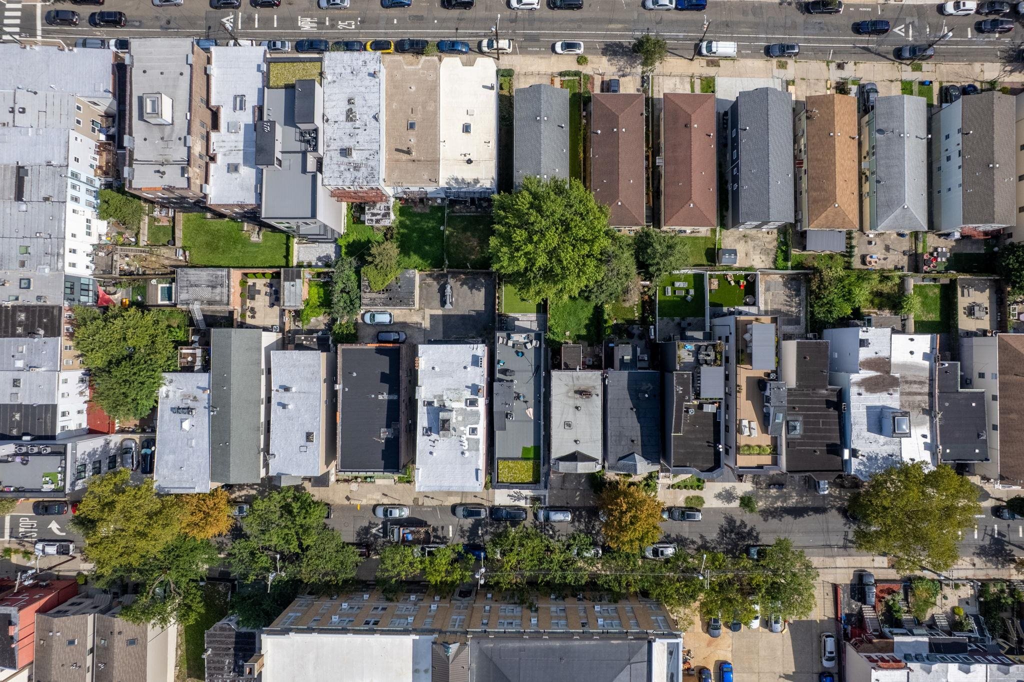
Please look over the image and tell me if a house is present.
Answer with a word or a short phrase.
Yes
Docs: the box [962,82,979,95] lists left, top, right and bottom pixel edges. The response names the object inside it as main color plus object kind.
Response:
black vehicle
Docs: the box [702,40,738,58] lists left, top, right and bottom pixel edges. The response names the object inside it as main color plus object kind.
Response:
white vehicle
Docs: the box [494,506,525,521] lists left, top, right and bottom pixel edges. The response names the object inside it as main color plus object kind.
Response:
black car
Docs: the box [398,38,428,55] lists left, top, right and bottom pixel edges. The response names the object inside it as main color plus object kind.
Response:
black car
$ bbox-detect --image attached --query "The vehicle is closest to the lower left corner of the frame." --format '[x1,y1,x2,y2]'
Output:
[37,540,74,557]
